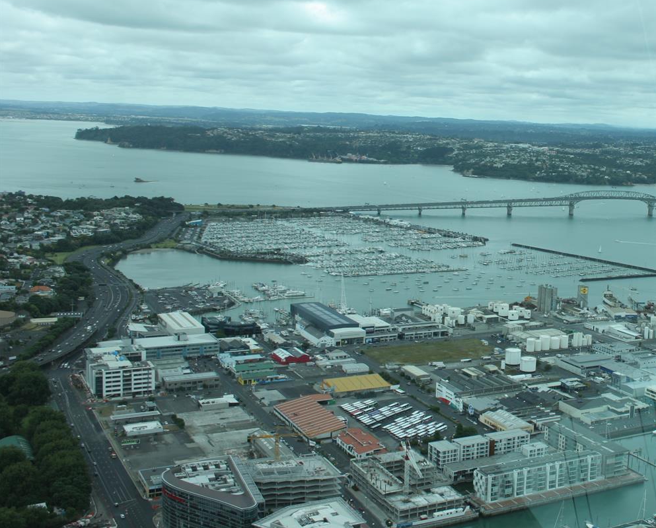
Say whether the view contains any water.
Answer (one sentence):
Yes, there's water in this view.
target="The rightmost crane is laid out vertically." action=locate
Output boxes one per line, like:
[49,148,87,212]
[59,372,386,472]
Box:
[402,441,424,493]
